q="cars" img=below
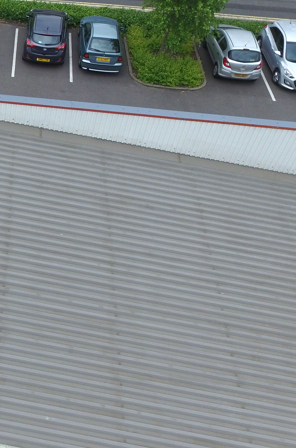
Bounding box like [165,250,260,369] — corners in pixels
[262,21,296,89]
[24,12,70,66]
[79,19,125,73]
[207,29,263,82]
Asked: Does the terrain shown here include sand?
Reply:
No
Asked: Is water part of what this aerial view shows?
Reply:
No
